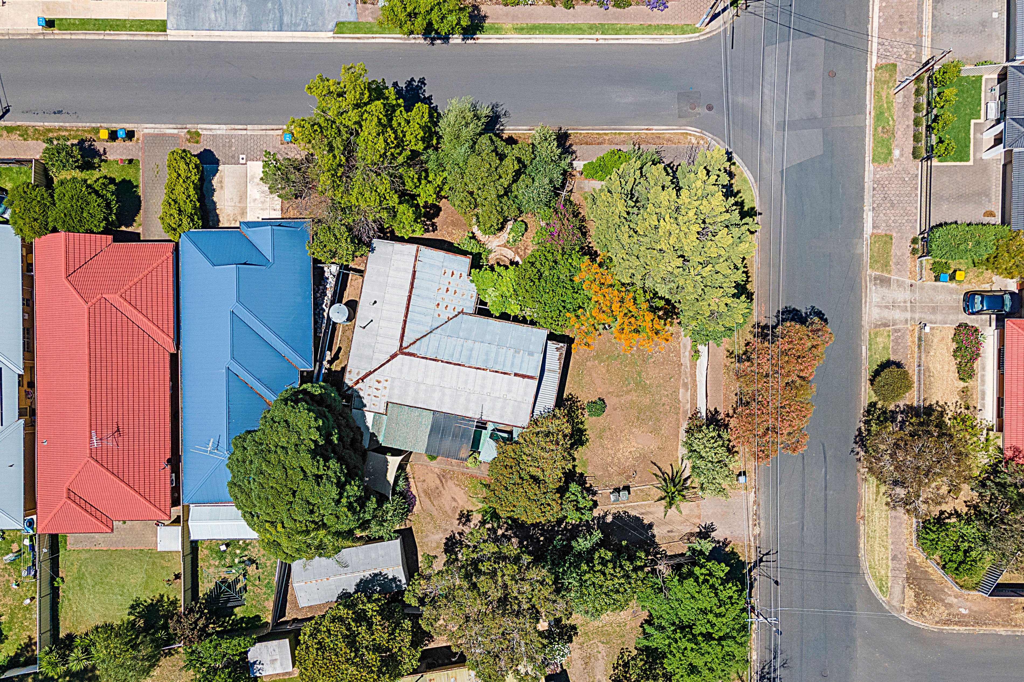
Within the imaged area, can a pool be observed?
No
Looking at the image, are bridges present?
No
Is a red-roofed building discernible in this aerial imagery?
Yes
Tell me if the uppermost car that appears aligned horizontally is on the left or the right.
right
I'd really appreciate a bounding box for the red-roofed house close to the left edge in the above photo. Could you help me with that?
[33,230,181,535]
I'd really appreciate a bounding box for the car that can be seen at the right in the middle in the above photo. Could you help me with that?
[957,288,1022,318]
